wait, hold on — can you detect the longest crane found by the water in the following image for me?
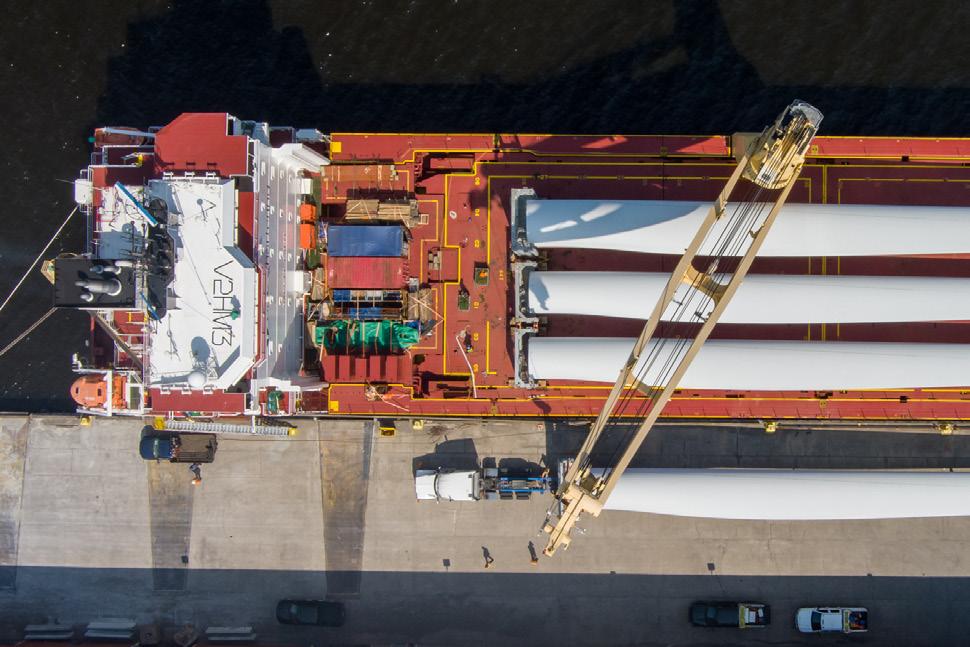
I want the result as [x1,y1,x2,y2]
[543,109,830,556]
